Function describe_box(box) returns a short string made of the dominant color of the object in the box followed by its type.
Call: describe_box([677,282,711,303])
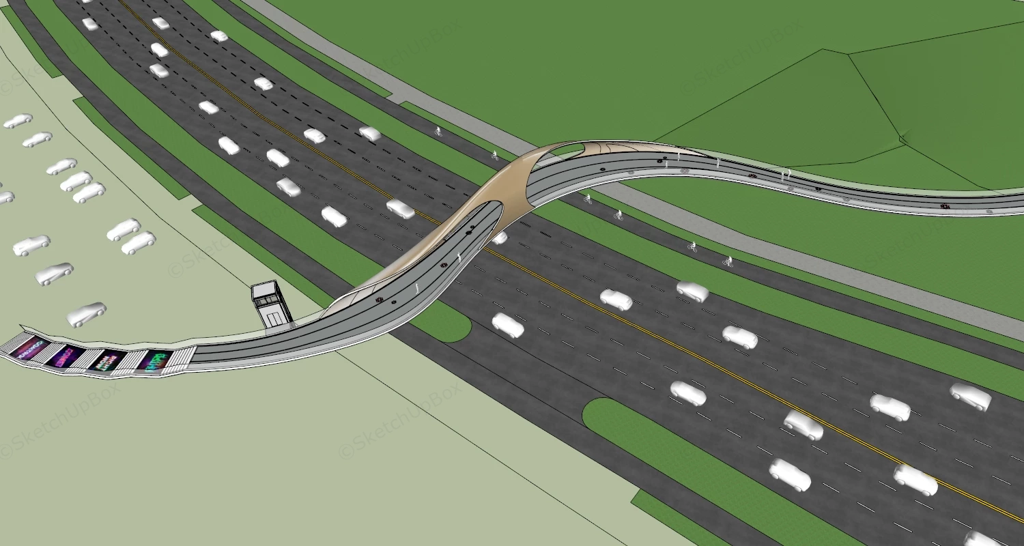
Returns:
white vehicle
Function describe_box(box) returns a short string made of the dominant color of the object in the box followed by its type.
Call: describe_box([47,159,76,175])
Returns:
white car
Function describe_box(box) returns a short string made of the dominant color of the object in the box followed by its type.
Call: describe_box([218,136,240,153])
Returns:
white car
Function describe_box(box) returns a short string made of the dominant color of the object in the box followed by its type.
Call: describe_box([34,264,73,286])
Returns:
white vehicle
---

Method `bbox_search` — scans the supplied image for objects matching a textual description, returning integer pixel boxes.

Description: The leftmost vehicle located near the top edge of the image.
[83,18,98,30]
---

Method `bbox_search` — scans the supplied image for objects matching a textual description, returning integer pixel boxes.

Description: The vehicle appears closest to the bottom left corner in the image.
[66,303,105,328]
